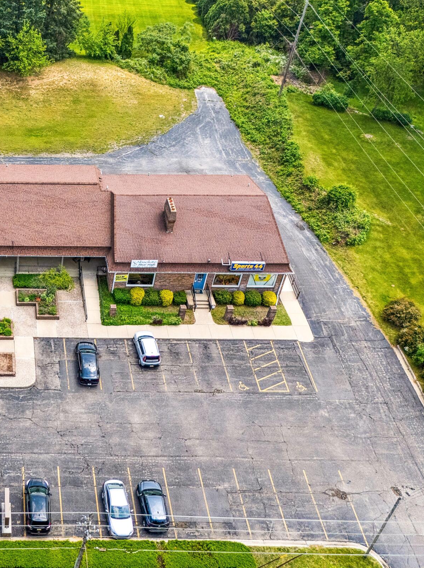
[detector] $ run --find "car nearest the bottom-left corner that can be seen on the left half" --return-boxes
[24,479,54,536]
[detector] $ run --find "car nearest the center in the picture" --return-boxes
[133,332,162,368]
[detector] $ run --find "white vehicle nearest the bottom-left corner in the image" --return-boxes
[102,479,135,540]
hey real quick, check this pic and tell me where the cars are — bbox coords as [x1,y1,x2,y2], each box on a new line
[76,342,102,387]
[137,481,171,533]
[133,332,162,368]
[102,479,135,540]
[24,479,54,536]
